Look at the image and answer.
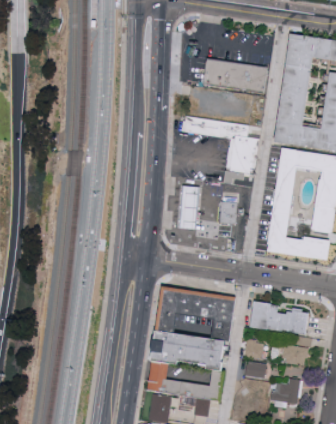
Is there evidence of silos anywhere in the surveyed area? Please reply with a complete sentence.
No, I can see no silo in this picture.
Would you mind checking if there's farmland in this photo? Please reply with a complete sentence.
No, farmland can't be seen anywhere here.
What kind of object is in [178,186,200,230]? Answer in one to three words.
shed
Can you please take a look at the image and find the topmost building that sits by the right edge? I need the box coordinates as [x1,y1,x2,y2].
[274,34,336,153]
